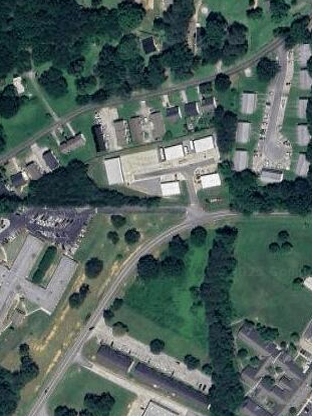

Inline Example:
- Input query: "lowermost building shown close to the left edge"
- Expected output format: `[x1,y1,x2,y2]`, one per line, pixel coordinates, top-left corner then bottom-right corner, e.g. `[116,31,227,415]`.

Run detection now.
[0,236,79,330]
